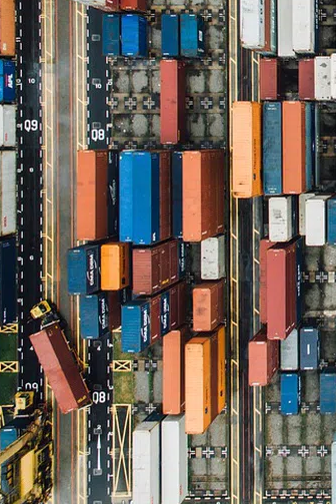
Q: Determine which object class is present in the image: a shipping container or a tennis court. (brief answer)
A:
shipping container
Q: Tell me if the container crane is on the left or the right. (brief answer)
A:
left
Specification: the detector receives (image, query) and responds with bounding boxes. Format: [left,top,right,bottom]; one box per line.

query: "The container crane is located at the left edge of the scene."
[0,409,56,504]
